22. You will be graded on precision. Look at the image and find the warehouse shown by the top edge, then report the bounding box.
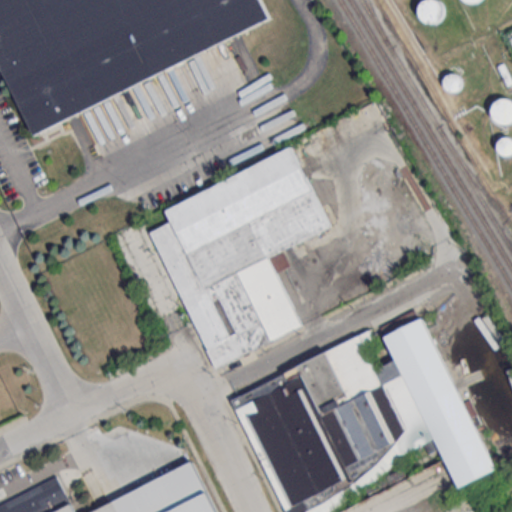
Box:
[0,0,266,134]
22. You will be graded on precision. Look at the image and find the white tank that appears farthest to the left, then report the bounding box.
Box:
[416,0,448,30]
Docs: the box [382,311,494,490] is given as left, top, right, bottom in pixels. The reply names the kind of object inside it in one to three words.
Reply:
shed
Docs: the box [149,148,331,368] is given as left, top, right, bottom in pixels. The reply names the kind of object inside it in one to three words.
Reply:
building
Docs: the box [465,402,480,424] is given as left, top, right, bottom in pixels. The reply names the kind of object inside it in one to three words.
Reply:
vehicle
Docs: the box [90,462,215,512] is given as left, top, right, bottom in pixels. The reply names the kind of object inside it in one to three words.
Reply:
building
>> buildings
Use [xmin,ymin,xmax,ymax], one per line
[228,330,438,512]
[90,462,215,512]
[0,0,266,134]
[149,148,331,368]
[382,311,494,490]
[0,476,74,512]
